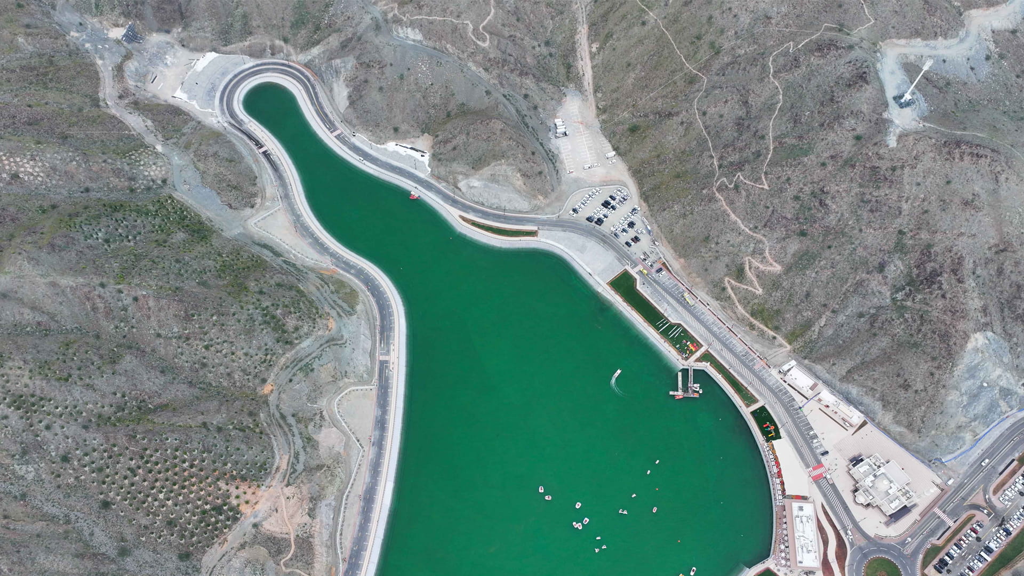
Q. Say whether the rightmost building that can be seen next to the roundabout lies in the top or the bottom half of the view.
bottom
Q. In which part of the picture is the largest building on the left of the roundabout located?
bottom right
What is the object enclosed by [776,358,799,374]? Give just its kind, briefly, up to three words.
vehicle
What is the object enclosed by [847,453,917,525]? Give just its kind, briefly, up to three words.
building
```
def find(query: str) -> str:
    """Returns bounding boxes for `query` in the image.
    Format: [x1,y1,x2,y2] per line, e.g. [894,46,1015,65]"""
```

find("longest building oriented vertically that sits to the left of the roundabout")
[785,501,823,570]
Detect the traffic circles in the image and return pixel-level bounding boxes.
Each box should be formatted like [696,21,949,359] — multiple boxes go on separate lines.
[847,533,917,576]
